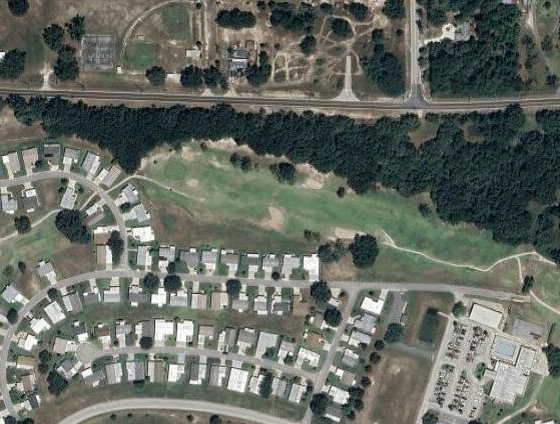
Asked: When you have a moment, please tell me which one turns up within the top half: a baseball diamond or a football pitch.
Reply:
baseball diamond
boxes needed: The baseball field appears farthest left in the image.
[125,41,156,75]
